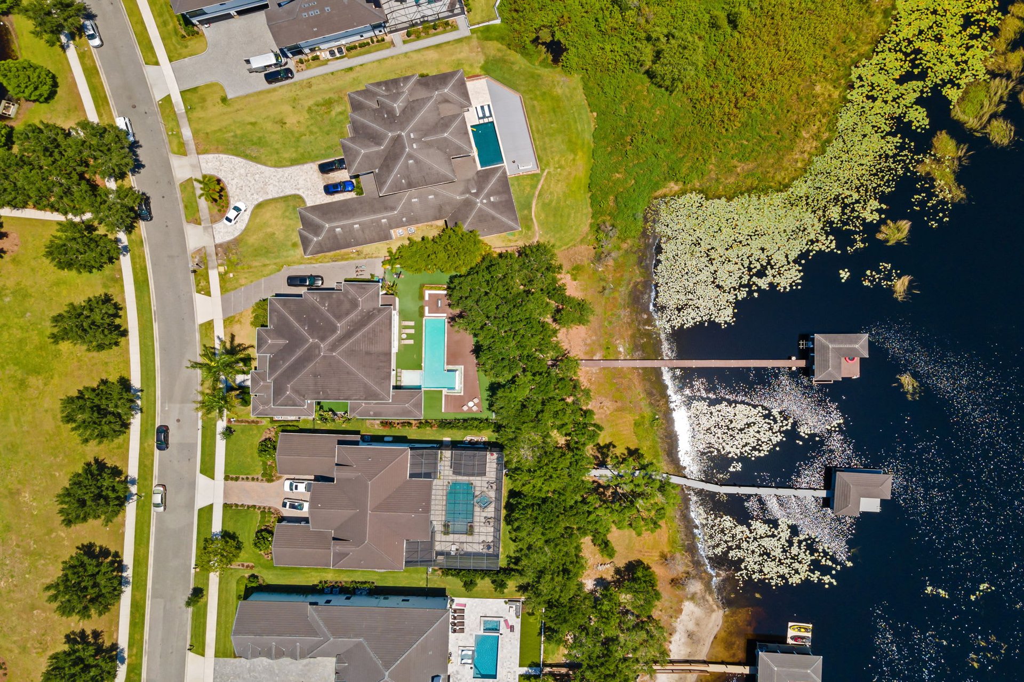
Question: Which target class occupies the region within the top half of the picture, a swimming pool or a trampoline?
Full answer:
You can see a swimming pool within the top half of the picture.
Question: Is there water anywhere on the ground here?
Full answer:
Yes, some water is visible.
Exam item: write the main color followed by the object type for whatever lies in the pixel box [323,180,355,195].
blue car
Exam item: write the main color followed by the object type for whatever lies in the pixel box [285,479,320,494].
white vehicle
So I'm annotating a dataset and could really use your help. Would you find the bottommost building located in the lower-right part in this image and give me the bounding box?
[745,640,824,682]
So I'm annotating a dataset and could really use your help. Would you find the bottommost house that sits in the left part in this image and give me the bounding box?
[232,591,455,682]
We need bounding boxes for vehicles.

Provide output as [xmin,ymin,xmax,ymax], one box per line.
[115,114,136,144]
[240,51,285,71]
[263,66,295,84]
[323,180,355,195]
[221,199,249,228]
[153,424,170,451]
[137,193,153,222]
[317,157,347,174]
[287,272,323,288]
[282,497,308,513]
[83,18,104,49]
[285,479,320,494]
